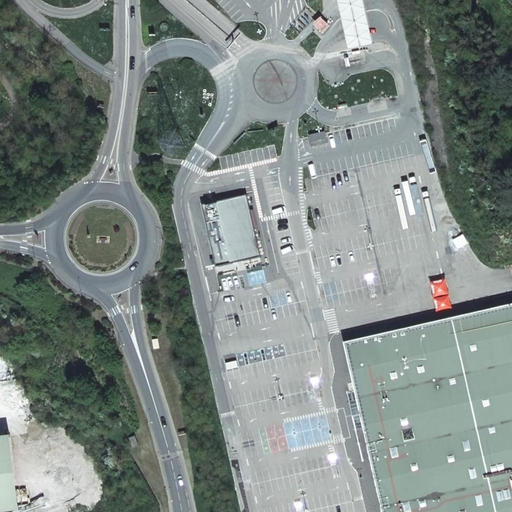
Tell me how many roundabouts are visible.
2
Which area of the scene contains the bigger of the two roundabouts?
left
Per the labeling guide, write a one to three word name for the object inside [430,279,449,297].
gazebo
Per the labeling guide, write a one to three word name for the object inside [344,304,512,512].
building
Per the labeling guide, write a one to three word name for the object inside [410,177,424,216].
vehicle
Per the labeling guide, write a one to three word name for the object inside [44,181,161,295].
roundabout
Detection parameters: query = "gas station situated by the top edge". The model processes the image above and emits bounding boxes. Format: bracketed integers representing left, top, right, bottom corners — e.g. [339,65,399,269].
[338,0,373,48]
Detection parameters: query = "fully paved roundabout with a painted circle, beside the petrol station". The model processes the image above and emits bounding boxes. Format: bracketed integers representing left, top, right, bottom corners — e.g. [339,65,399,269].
[236,41,316,121]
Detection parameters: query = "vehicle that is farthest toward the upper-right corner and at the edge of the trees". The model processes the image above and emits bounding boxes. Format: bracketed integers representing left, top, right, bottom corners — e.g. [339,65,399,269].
[420,138,436,173]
